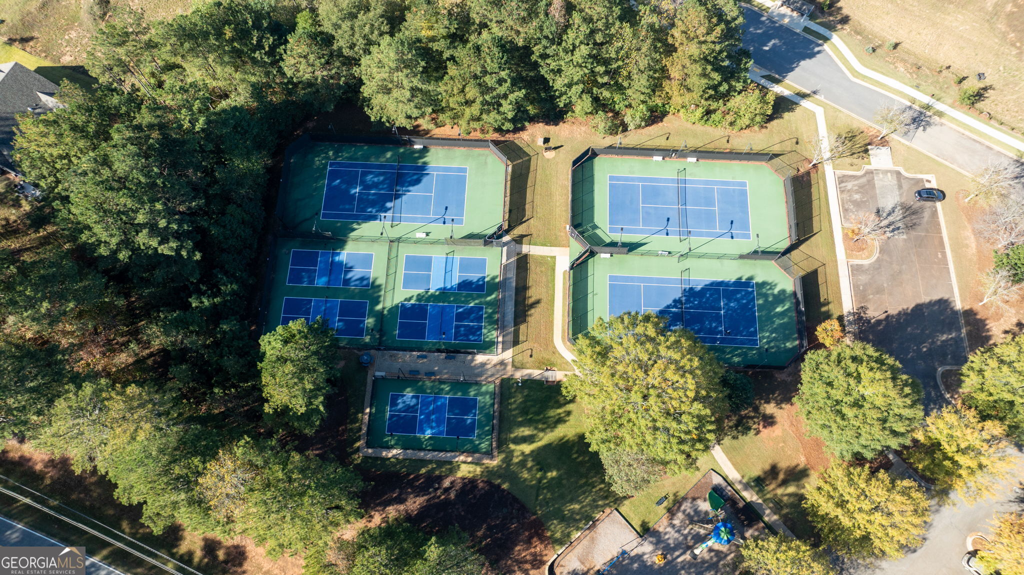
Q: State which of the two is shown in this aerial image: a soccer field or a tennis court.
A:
tennis court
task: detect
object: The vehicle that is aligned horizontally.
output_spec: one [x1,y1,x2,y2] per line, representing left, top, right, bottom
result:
[914,189,944,203]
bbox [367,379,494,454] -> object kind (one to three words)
sports court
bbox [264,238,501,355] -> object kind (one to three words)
sports court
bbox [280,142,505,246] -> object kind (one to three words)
tennis court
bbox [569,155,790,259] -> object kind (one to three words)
tennis court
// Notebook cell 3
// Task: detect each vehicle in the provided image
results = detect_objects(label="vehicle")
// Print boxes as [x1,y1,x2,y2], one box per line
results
[914,189,944,203]
[961,555,986,575]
